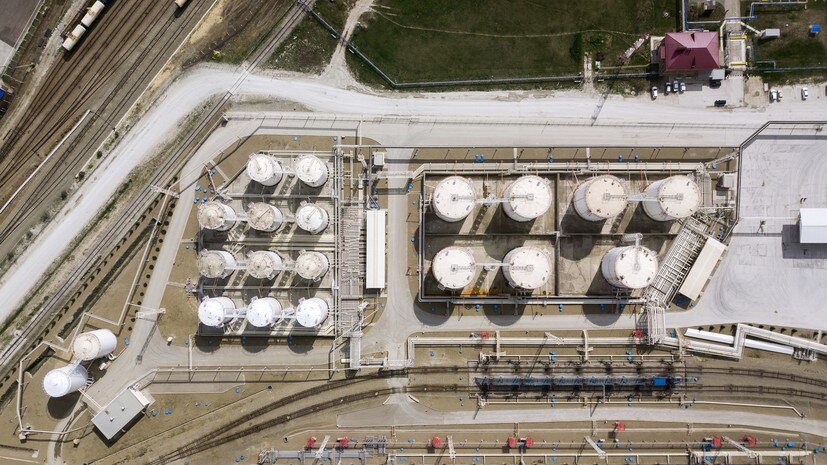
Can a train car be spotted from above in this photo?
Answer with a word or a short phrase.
Yes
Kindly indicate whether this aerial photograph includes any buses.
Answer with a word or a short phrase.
No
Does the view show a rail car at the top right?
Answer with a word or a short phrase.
No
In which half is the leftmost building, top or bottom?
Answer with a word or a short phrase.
bottom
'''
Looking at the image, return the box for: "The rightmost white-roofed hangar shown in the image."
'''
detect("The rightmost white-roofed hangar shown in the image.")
[791,208,827,243]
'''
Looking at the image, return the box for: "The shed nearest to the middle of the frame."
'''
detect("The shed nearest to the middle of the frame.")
[367,211,385,288]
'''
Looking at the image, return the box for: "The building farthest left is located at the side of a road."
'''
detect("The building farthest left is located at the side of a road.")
[90,384,153,439]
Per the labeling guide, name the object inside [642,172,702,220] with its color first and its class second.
white storage tank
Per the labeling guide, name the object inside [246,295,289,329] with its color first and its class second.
white storage tank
